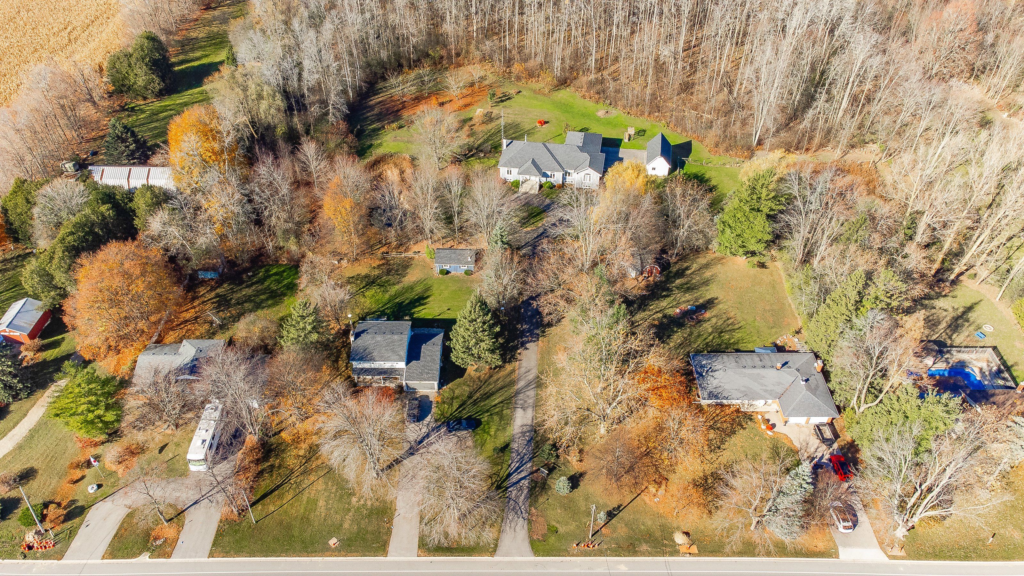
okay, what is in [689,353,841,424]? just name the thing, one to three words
house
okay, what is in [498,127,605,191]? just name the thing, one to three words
house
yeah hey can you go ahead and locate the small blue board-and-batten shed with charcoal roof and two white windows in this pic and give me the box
[435,248,476,272]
